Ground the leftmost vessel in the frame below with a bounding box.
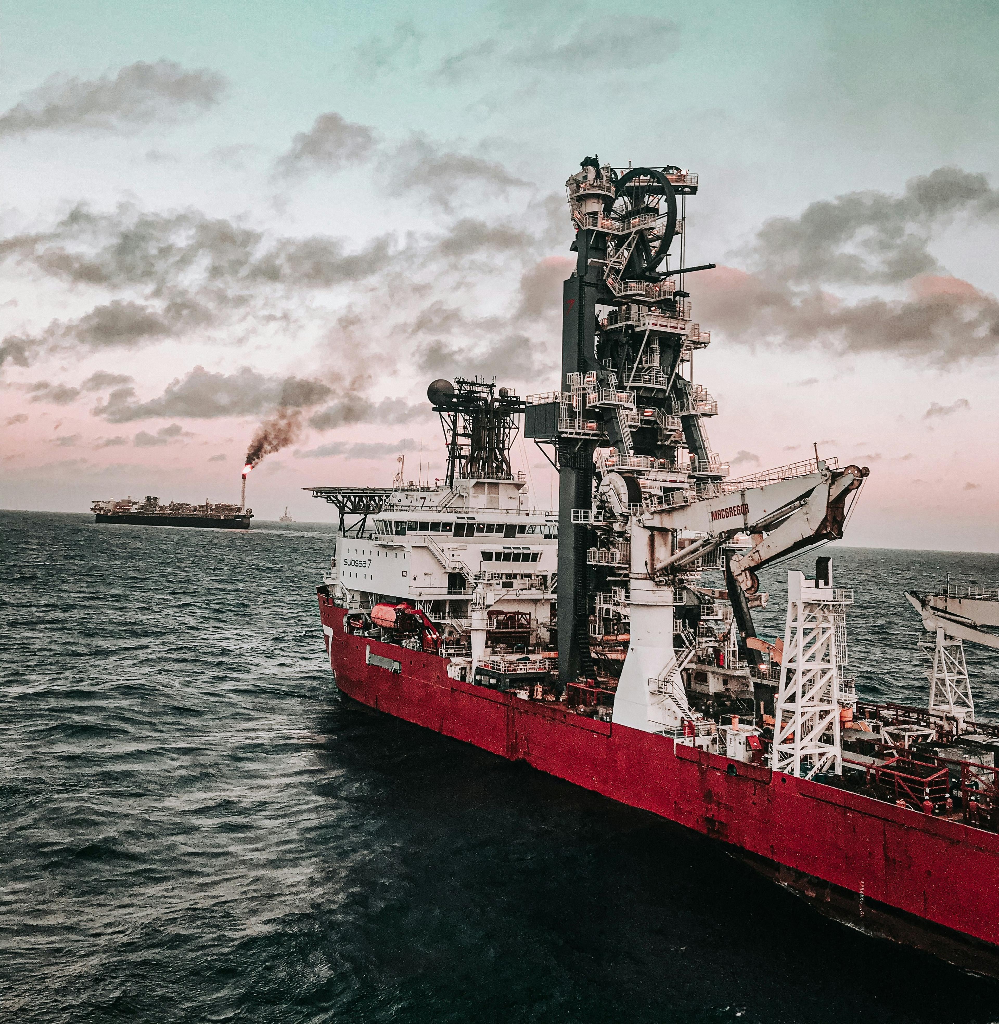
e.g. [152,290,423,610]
[92,474,256,529]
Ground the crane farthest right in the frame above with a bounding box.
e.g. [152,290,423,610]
[904,572,999,647]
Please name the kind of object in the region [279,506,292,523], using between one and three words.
ship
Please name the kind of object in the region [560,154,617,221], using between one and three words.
crane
